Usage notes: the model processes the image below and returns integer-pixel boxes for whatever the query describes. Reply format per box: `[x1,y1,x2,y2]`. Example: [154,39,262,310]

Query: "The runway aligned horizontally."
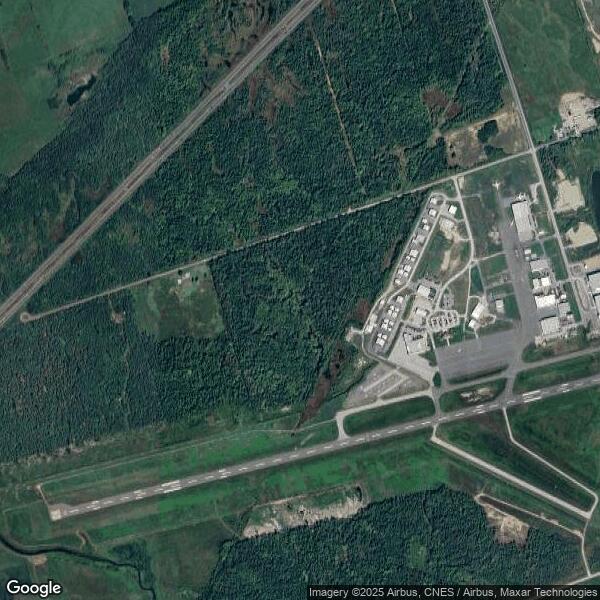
[58,374,600,520]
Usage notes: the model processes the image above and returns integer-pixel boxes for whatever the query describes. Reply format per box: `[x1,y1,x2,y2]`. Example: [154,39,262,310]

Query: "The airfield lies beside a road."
[49,193,600,520]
